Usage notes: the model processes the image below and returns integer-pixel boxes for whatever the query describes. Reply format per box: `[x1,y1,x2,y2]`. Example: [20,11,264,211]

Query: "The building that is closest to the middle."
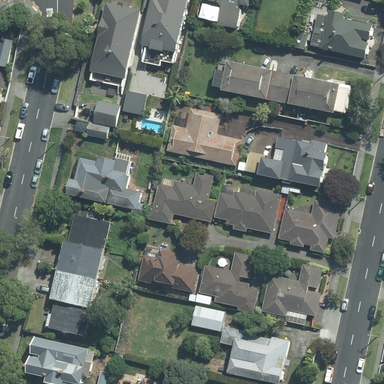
[150,172,216,224]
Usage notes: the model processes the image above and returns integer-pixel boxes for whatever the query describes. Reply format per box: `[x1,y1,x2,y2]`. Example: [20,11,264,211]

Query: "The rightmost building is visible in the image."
[311,10,377,58]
